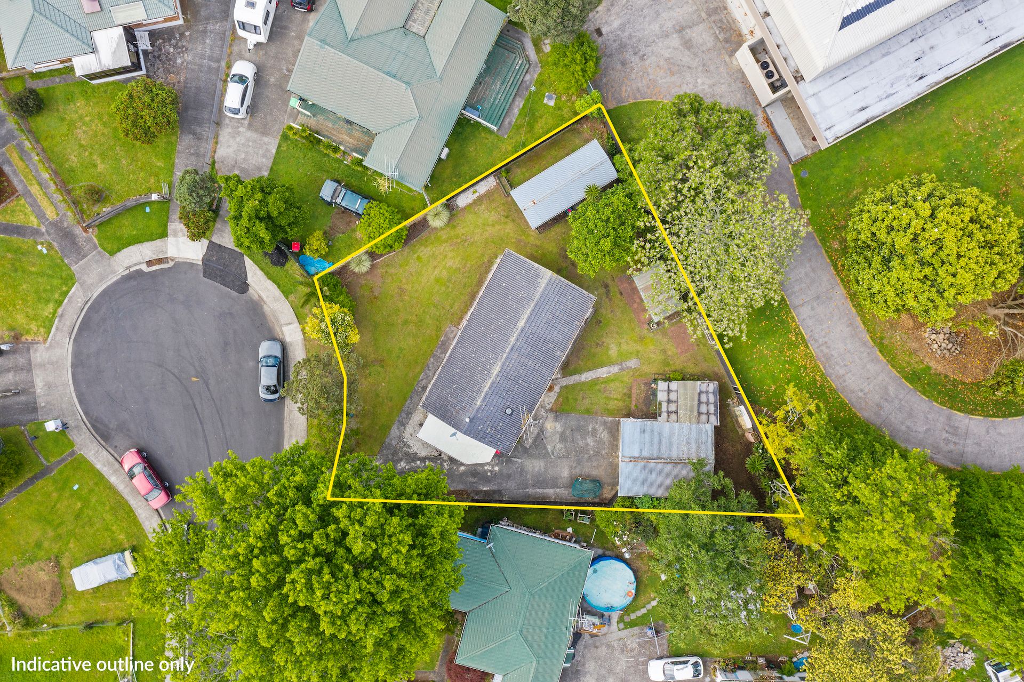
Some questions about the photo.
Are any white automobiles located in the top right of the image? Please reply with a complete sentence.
No, no white automobile can be made out in the top right of the image.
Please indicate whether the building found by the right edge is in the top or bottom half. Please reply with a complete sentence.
It is in the top half that the building found by the right edge appears.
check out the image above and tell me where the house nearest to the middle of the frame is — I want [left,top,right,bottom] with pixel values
[417,248,597,464]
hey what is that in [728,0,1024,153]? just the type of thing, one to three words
building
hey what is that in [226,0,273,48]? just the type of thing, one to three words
camper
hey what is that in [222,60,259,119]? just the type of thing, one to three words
car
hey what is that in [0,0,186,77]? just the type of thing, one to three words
house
